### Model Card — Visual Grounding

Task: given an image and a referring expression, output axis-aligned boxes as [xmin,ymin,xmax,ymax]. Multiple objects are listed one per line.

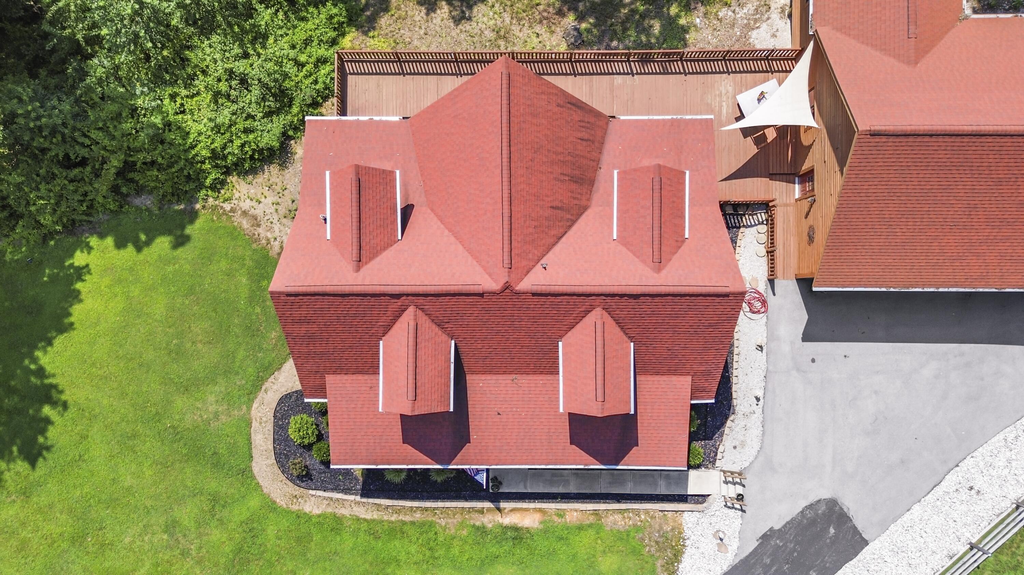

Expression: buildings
[793,0,1024,291]
[269,54,748,470]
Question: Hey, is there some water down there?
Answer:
No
